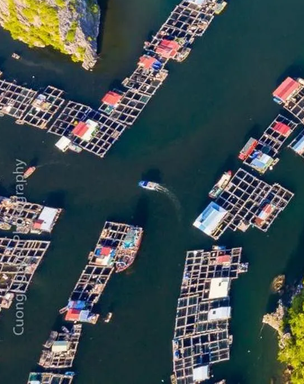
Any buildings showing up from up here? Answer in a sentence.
Yes, there is a building in the image.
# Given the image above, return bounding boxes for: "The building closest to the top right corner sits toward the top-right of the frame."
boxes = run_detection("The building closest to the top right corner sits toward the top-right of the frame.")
[274,75,304,107]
